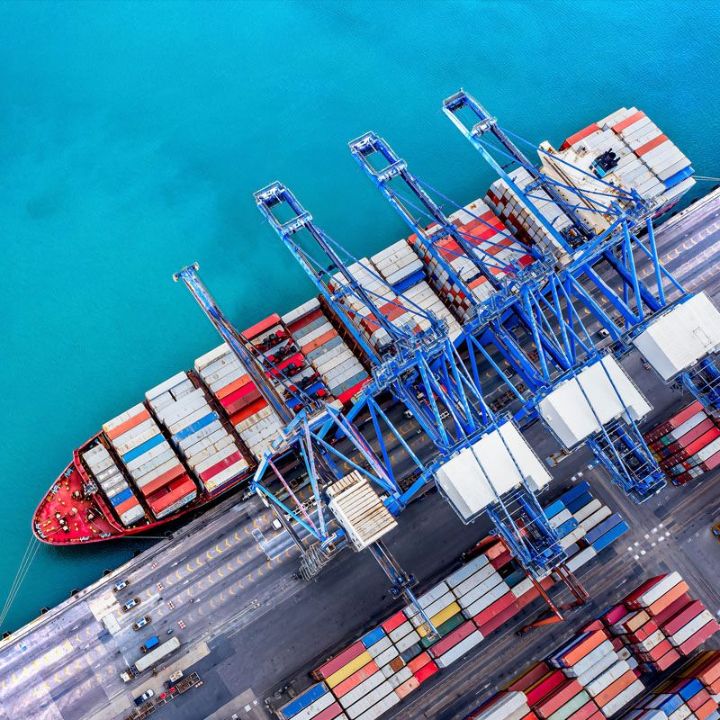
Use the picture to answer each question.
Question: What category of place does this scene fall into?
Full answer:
The area seen from above is a port.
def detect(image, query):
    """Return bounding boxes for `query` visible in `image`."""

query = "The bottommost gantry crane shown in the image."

[447,505,597,640]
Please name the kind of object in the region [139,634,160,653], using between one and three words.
vehicle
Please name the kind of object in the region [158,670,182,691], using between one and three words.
truck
